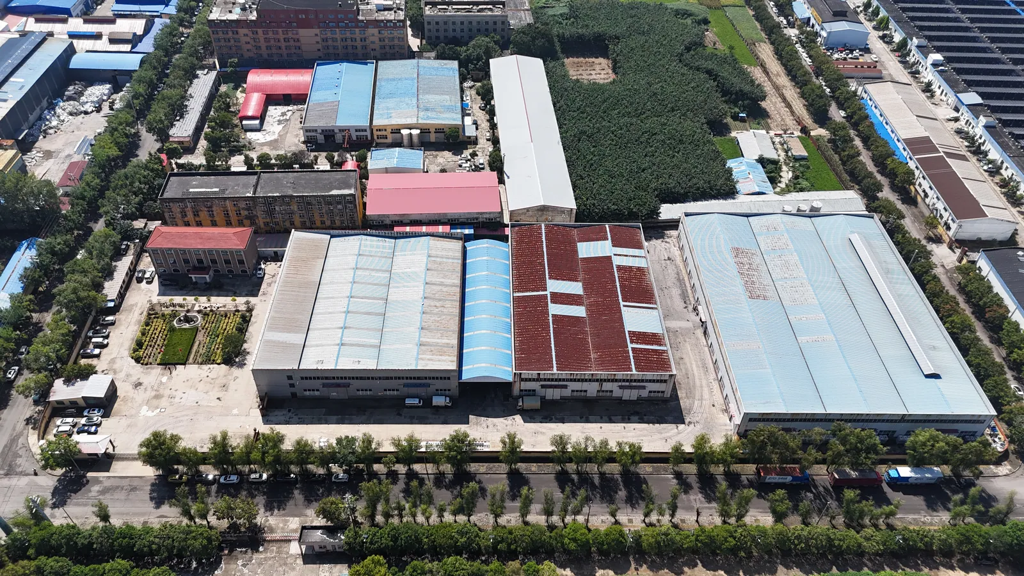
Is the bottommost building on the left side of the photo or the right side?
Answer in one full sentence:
The bottommost building appears in the left half of the scene.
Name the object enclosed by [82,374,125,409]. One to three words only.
building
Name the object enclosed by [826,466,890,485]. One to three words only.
vehicle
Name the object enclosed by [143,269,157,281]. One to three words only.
vehicle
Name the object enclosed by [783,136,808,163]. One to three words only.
shed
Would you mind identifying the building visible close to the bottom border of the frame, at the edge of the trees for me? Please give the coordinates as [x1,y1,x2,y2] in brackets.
[299,525,352,551]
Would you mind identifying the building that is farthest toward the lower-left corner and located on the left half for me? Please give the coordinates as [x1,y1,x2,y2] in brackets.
[64,434,116,458]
